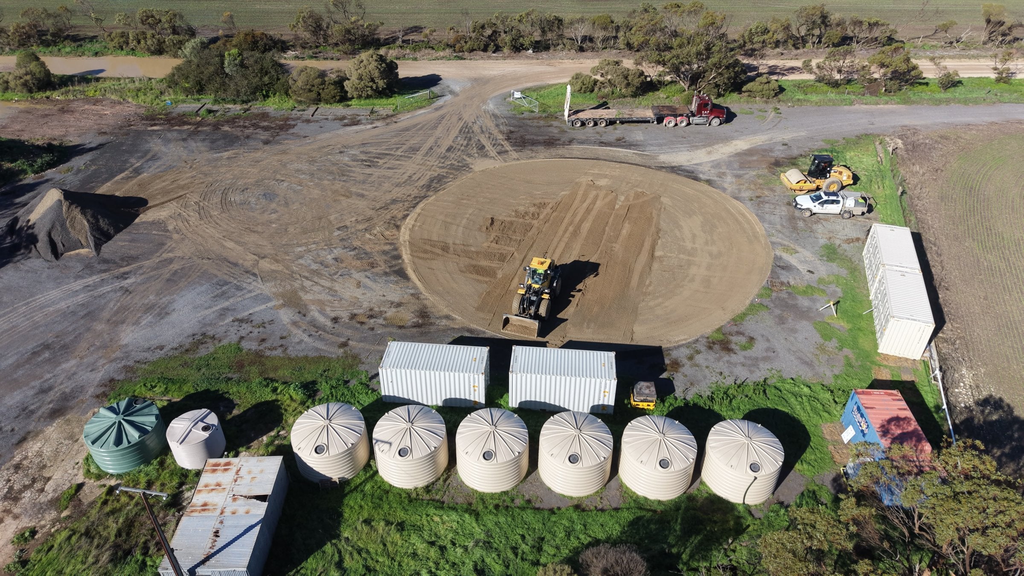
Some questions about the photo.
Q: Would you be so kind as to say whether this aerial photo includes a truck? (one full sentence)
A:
Yes, the image includes a truck.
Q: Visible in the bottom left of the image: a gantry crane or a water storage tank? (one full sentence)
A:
What appears in the bottom left of the image is a water storage tank.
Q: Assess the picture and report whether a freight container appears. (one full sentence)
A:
Yes, the photo shows a freight container.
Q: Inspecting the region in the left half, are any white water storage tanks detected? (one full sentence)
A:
Yes, I can see a white water storage tank in the left half.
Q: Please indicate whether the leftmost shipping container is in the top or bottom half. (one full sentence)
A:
The leftmost shipping container is in the bottom half of the image.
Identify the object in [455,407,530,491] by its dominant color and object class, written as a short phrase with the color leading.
white water tank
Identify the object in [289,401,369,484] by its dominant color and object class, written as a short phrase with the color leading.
white water tank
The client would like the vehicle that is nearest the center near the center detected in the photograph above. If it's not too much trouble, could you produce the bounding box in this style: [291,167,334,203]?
[504,249,566,339]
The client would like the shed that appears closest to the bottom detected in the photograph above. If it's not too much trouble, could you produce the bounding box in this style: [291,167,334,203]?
[157,448,288,576]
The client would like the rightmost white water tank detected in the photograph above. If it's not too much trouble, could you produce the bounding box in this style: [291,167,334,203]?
[702,418,786,508]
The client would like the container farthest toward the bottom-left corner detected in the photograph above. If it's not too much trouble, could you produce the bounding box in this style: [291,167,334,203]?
[378,341,490,408]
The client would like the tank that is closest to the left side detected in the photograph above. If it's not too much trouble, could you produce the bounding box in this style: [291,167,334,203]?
[81,398,170,478]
